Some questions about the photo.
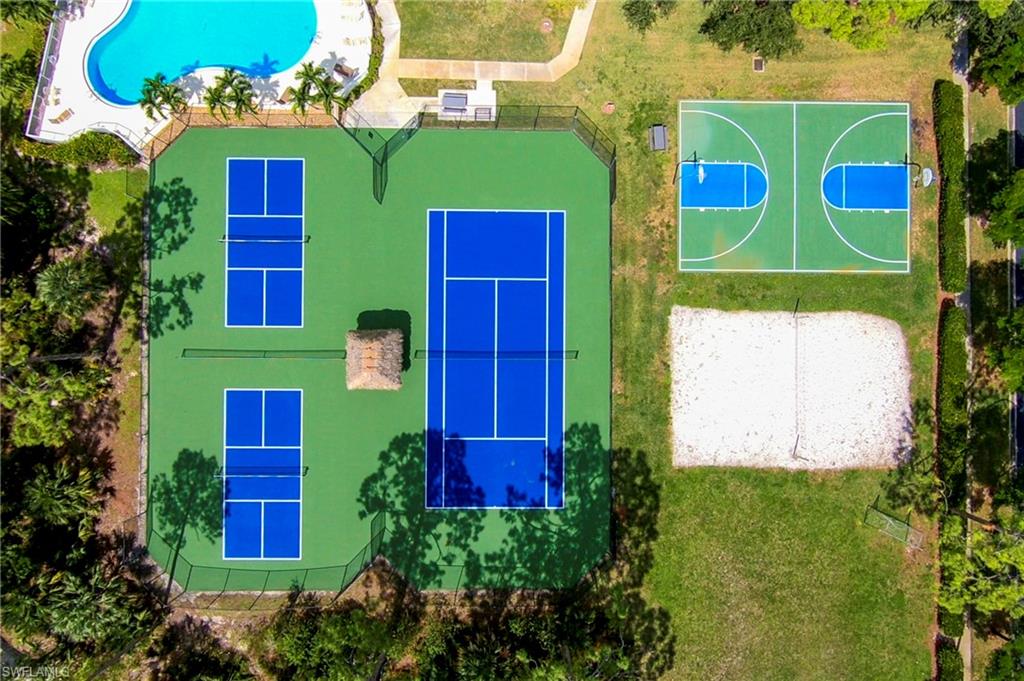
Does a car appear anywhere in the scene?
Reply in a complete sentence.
No, no car is visible in the scene.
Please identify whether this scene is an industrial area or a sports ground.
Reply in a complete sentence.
The area seen from above is a sports ground.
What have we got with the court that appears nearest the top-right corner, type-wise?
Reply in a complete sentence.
It turns out the court that appears nearest the top-right corner is a basketball court.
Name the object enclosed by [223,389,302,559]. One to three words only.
sports court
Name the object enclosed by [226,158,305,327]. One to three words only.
sports court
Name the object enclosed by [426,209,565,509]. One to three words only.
tennis court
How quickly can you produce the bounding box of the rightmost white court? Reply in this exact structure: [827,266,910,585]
[668,302,915,472]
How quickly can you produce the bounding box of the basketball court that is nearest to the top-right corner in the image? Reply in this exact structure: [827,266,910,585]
[679,100,911,273]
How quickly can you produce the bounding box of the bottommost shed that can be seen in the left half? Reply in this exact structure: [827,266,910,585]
[345,329,403,391]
